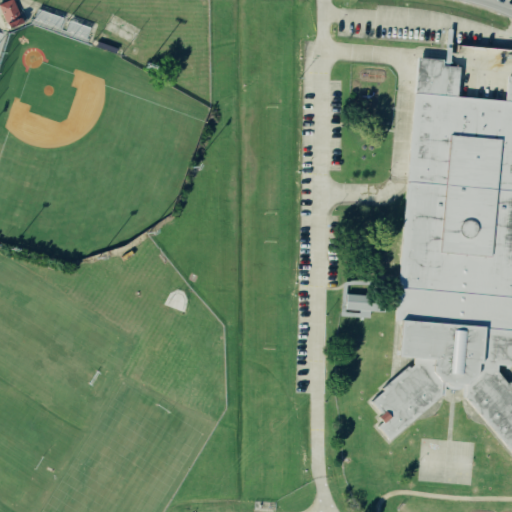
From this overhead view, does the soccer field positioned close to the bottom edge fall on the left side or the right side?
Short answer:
left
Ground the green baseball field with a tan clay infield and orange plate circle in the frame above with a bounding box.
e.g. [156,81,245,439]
[0,24,209,254]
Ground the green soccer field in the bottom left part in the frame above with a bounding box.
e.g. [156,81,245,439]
[44,384,202,512]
